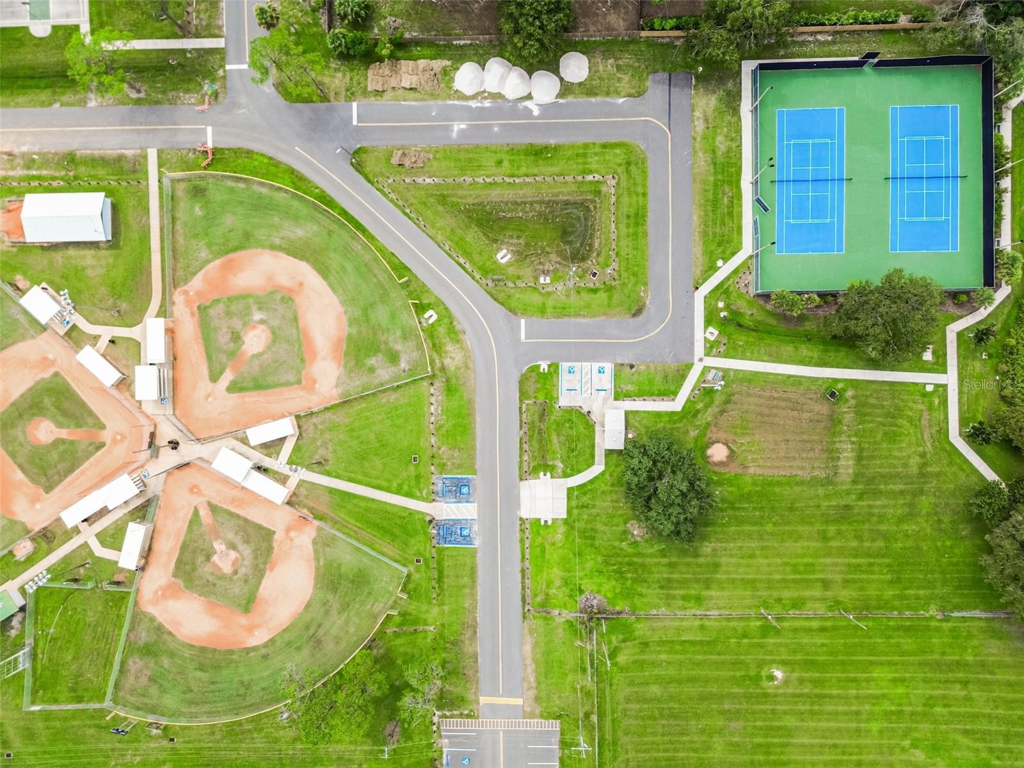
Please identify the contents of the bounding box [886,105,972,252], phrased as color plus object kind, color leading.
blue tennis court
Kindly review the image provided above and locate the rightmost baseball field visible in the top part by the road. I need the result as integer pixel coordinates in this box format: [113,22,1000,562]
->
[170,173,429,440]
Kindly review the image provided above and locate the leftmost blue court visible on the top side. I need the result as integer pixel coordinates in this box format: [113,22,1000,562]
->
[770,107,856,253]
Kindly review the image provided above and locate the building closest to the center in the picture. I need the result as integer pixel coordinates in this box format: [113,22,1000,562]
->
[605,410,627,450]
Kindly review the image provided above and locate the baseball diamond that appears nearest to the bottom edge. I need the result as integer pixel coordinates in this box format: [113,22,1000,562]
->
[112,458,405,718]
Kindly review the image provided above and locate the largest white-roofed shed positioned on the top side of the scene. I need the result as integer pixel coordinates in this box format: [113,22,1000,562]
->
[14,192,110,242]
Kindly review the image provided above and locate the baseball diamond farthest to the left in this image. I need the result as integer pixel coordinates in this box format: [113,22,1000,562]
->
[0,290,155,551]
